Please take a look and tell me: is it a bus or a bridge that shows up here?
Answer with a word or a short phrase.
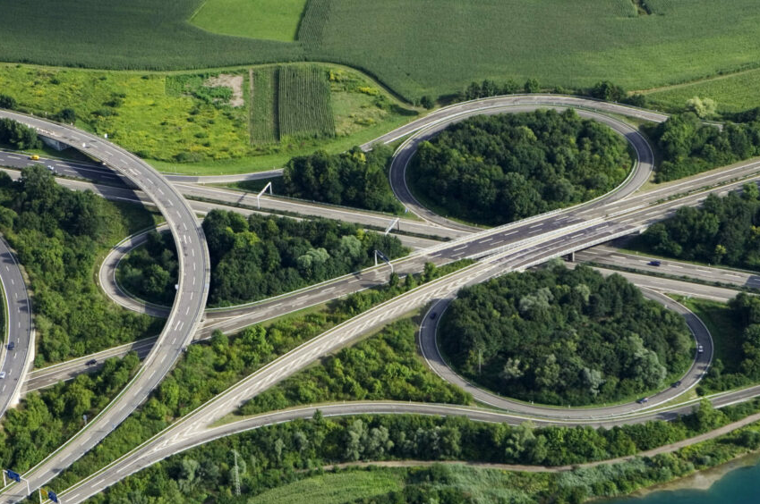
bridge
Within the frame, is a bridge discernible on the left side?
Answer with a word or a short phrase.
Yes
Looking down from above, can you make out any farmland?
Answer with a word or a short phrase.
Yes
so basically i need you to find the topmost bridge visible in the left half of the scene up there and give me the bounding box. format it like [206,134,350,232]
[60,129,210,371]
